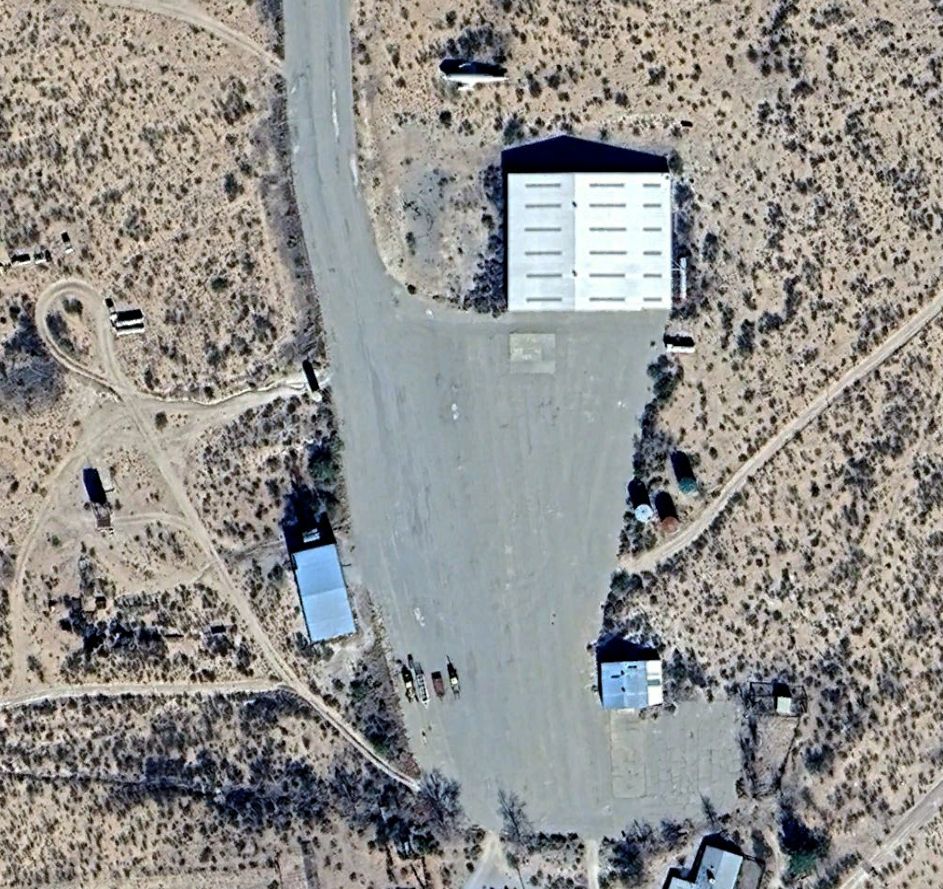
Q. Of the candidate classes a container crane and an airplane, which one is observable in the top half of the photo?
airplane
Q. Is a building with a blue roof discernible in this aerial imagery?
Yes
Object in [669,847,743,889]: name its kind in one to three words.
house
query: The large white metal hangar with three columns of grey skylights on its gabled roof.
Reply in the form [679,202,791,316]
[507,170,672,310]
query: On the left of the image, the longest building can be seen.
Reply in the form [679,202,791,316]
[291,544,355,643]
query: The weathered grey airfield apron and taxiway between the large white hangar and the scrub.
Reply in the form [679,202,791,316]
[283,0,741,838]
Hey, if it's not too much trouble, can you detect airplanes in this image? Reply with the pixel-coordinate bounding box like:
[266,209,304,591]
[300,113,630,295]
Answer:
[441,64,506,91]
